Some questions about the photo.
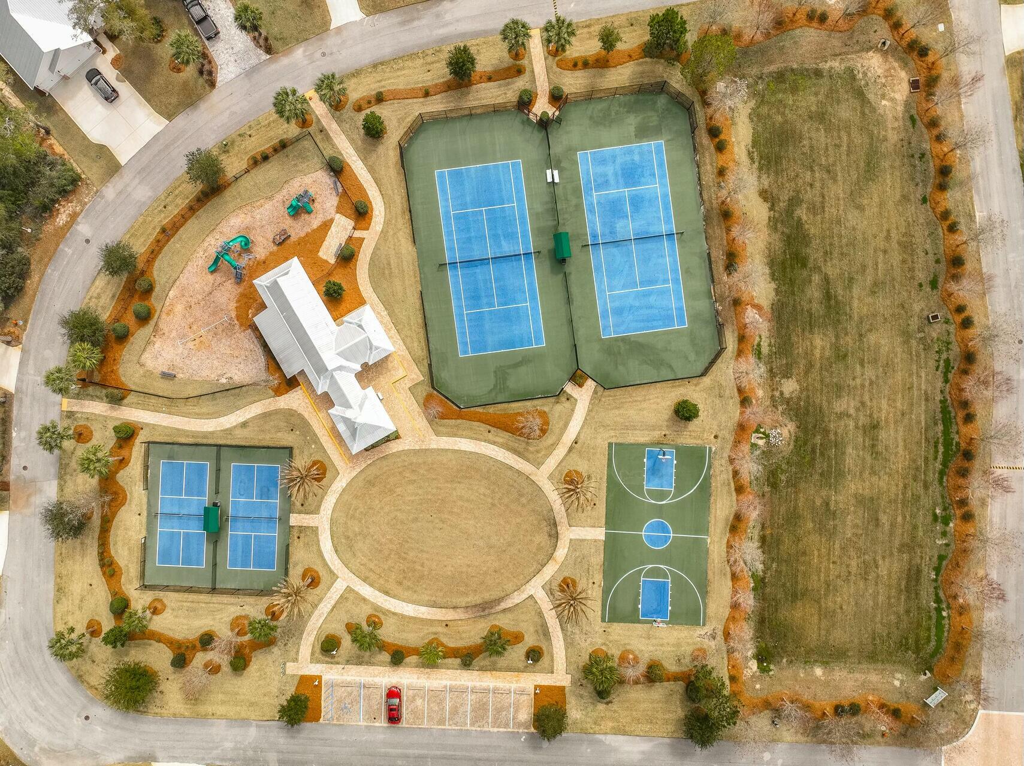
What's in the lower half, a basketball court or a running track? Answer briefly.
basketball court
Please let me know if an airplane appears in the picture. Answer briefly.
No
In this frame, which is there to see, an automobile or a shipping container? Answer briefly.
automobile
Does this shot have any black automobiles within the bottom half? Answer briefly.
No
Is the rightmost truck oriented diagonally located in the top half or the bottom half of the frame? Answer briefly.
top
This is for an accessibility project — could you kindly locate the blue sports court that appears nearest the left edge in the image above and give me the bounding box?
[144,445,219,588]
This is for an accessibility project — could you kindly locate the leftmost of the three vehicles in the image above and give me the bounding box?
[85,65,119,105]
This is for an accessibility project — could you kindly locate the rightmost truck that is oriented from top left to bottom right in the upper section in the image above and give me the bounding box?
[180,0,219,42]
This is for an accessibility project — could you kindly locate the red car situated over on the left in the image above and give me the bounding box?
[385,686,402,725]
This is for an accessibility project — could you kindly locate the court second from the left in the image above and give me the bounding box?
[215,447,291,591]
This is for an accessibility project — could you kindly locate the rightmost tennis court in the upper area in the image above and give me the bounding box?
[545,91,719,388]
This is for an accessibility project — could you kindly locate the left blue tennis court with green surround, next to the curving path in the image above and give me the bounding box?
[404,110,578,408]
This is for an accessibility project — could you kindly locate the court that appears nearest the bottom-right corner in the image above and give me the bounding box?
[602,443,711,626]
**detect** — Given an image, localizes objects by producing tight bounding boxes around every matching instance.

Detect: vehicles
[385,686,402,725]
[180,0,219,42]
[85,65,119,105]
